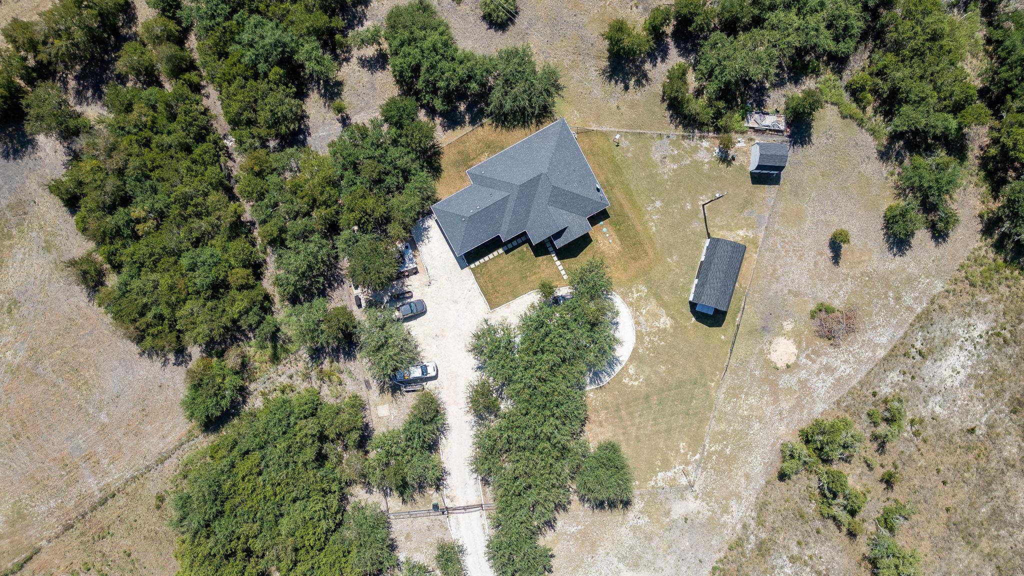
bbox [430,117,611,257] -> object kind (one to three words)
house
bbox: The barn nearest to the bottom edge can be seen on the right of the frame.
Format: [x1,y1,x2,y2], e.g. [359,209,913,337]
[689,237,747,312]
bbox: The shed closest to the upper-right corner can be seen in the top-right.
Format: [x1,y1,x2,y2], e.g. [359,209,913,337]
[749,141,792,172]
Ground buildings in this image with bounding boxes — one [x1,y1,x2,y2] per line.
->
[749,141,792,172]
[430,117,611,257]
[689,237,747,312]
